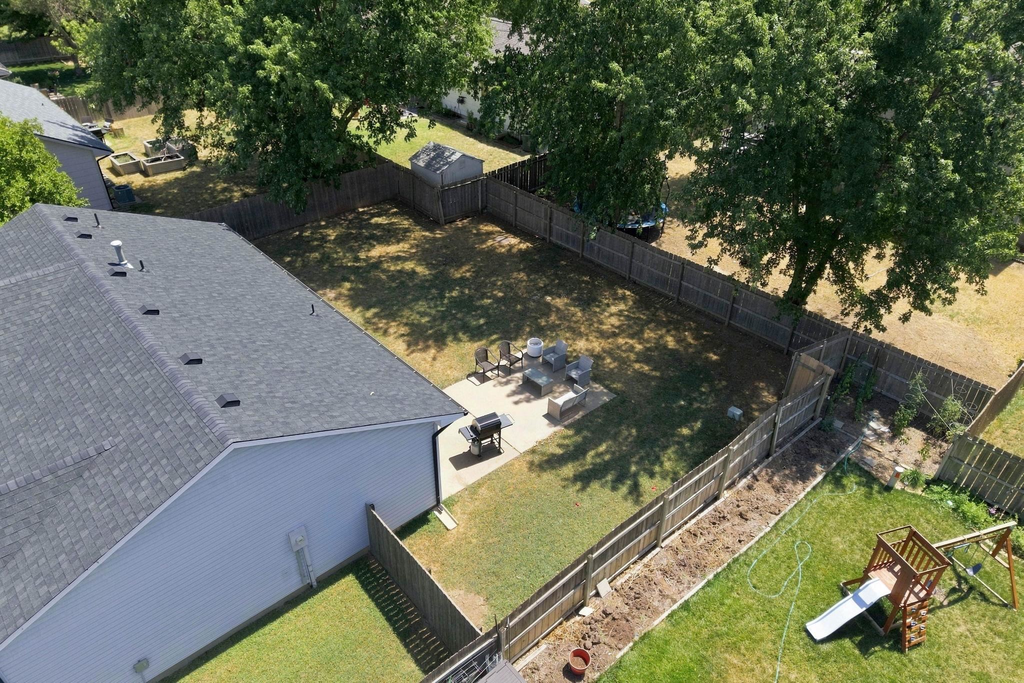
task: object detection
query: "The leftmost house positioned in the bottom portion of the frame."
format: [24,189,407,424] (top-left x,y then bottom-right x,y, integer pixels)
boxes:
[0,205,470,683]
